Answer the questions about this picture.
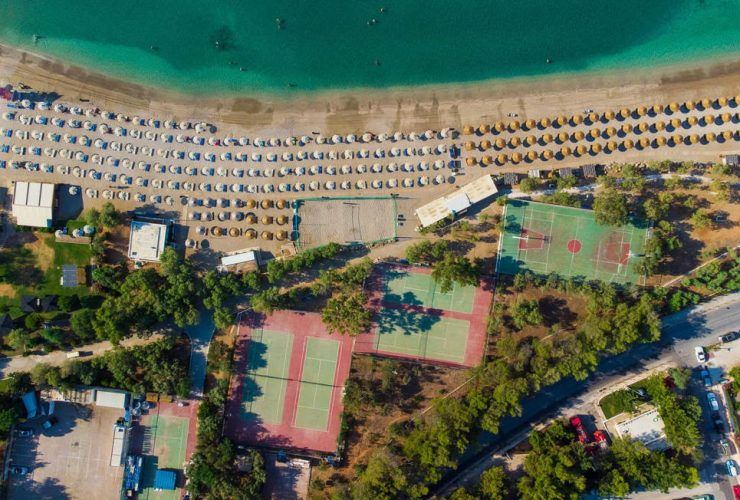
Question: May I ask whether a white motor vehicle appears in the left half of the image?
Yes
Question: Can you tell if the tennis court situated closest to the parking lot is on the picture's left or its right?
left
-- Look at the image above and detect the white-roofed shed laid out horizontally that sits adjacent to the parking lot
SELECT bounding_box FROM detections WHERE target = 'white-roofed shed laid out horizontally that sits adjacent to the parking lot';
[95,389,130,408]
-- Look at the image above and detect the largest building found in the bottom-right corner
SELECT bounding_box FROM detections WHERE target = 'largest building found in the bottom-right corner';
[611,406,666,447]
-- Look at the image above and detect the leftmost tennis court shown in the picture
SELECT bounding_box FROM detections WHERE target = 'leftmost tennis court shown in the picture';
[140,412,193,500]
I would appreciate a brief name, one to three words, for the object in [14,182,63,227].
building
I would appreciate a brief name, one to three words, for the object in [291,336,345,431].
tennis court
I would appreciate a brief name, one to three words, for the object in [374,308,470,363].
tennis court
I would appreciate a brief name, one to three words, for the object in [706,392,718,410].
vehicle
